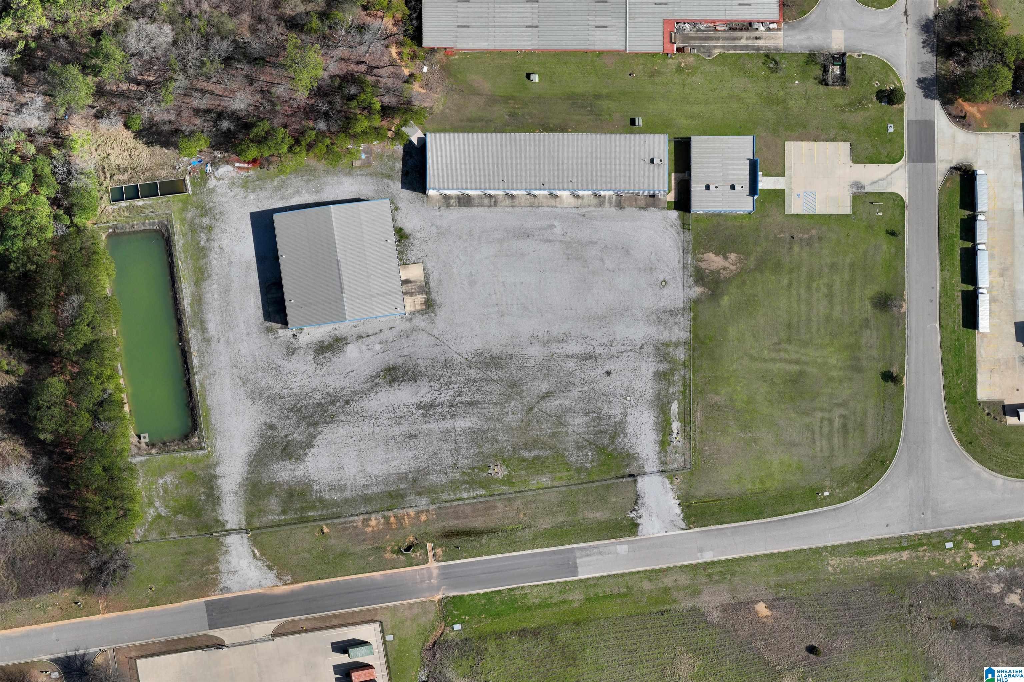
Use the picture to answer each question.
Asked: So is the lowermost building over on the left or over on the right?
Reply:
left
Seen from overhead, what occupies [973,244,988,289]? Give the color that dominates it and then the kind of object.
white vehicle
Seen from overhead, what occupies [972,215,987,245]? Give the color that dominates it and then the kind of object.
white vehicle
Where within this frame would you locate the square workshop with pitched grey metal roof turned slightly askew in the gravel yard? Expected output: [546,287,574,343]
[273,199,407,329]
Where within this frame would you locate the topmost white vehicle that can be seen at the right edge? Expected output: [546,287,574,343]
[972,171,987,212]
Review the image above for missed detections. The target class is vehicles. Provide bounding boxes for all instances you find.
[972,215,987,245]
[973,244,988,289]
[972,171,987,212]
[973,288,989,332]
[1013,408,1024,421]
